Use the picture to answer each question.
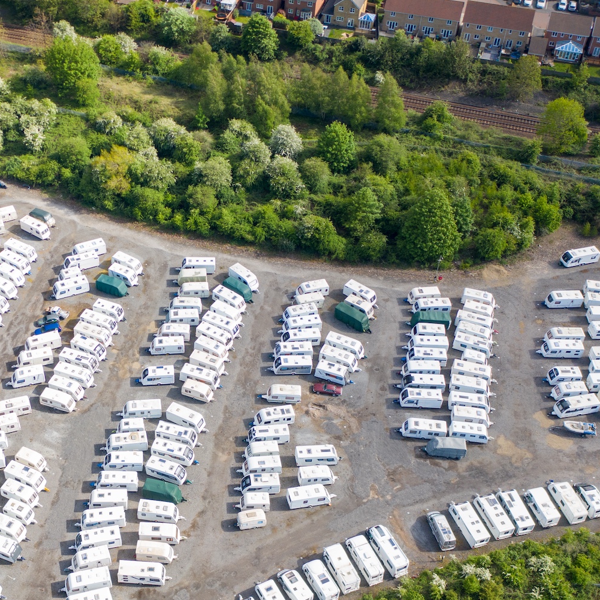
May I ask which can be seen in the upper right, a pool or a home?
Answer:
home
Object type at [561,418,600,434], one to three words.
boat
